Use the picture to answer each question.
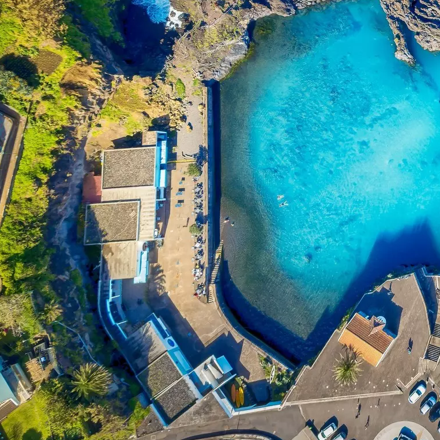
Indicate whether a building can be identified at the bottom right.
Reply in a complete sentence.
Yes, the scene does show a building at the bottom right.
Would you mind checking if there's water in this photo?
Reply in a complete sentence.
Yes, there's water in this view.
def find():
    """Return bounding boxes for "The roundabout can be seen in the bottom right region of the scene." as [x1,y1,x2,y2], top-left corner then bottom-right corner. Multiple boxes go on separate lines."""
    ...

[376,423,432,440]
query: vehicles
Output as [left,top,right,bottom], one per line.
[417,394,439,419]
[319,420,338,440]
[334,430,349,440]
[395,432,417,440]
[426,402,440,427]
[405,383,427,409]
